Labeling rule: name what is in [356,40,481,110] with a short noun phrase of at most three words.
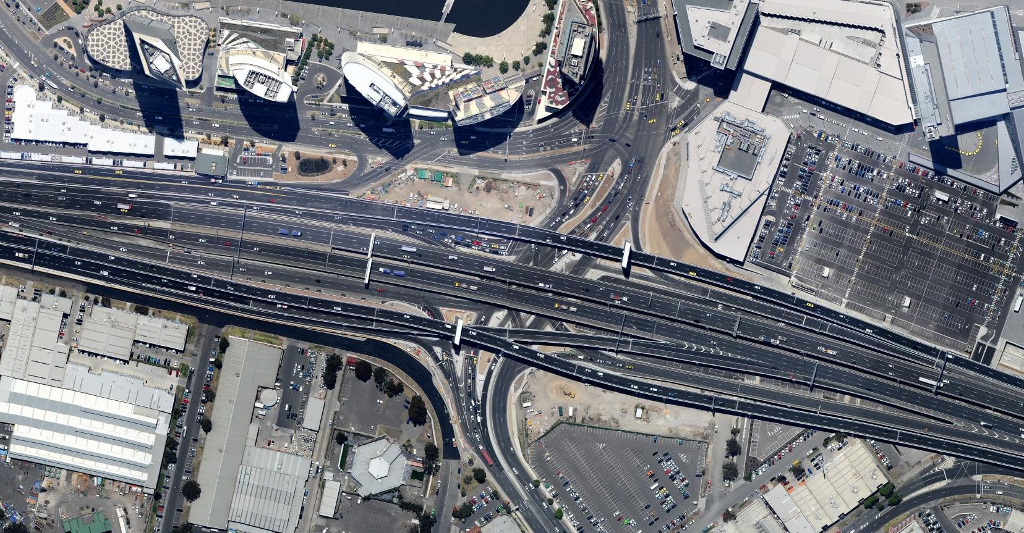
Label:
building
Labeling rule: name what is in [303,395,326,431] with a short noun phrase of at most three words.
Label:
shed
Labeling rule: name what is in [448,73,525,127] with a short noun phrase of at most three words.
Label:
building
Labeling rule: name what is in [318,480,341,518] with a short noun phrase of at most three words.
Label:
shed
